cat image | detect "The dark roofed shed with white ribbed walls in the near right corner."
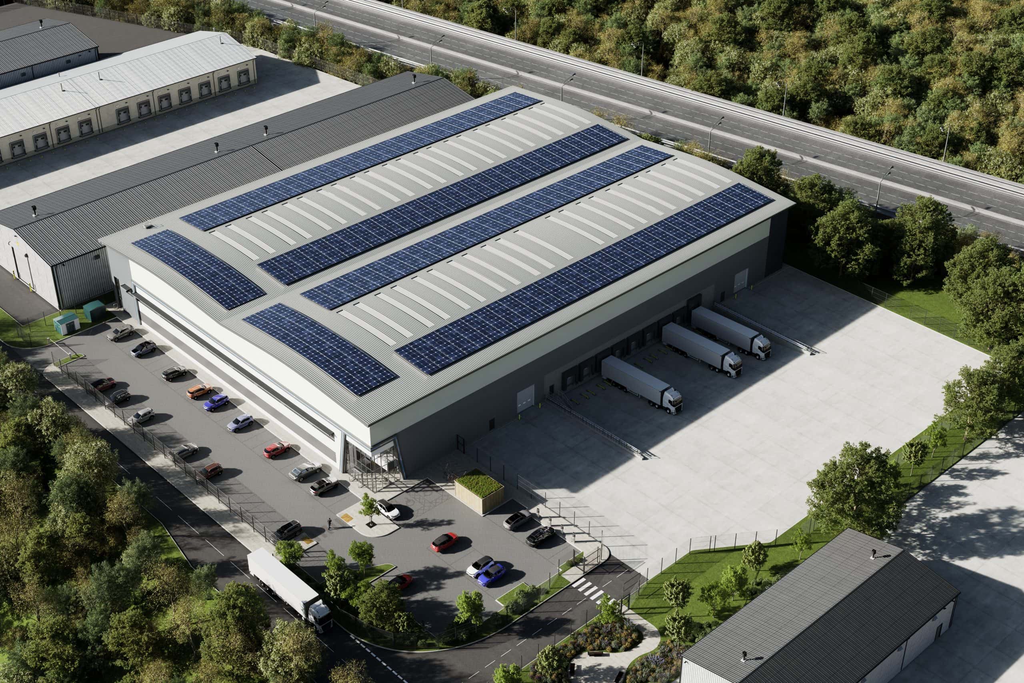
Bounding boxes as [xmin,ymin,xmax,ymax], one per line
[679,527,963,683]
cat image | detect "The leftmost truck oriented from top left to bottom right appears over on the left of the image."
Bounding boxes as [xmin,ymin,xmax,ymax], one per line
[247,547,334,633]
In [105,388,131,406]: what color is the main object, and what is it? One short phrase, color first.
black car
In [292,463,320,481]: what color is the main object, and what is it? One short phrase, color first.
gray car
